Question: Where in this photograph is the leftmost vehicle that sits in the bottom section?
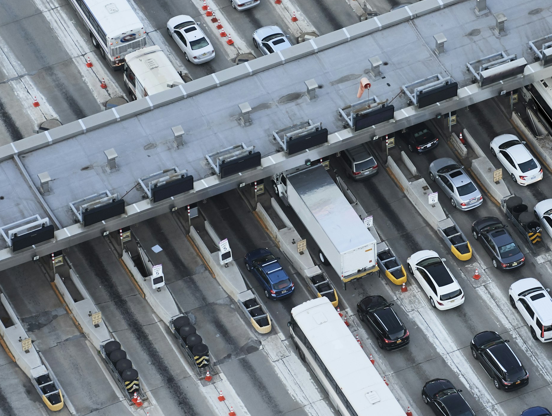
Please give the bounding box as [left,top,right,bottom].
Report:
[246,249,296,304]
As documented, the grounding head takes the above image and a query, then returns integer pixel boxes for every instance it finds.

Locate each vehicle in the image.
[491,134,544,190]
[508,280,552,349]
[269,158,380,293]
[421,378,474,416]
[472,216,526,275]
[430,158,485,216]
[246,249,296,304]
[65,0,147,71]
[253,28,289,56]
[407,250,466,315]
[522,406,552,416]
[230,0,264,16]
[334,143,380,184]
[123,52,183,100]
[398,122,440,158]
[473,333,532,398]
[358,296,412,357]
[532,196,552,238]
[165,14,217,69]
[288,302,408,416]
